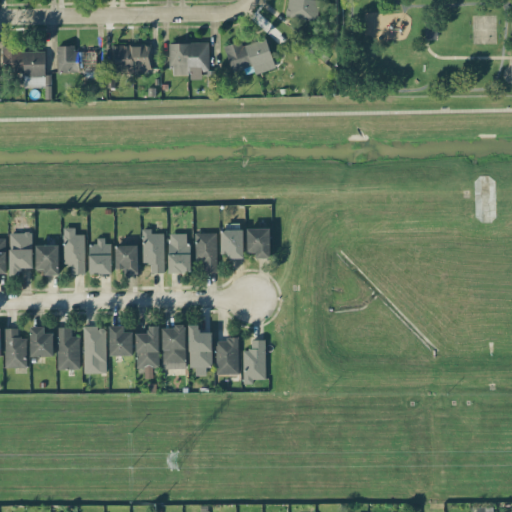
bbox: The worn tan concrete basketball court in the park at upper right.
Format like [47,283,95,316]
[473,16,497,44]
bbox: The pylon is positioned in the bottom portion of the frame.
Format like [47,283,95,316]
[166,450,180,470]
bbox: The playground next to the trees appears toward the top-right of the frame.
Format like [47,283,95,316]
[364,12,412,41]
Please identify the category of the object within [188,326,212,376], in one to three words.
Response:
house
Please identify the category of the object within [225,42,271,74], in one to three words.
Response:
house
